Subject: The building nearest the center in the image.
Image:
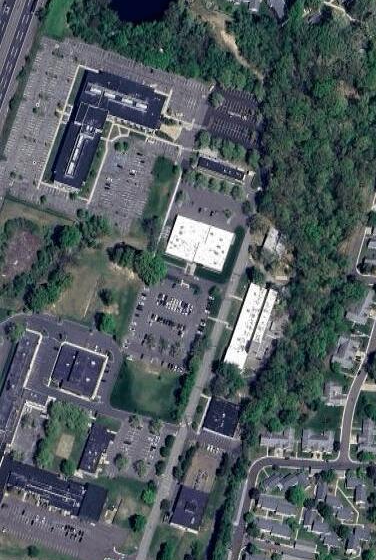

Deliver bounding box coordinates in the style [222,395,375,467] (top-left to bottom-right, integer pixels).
[166,215,235,274]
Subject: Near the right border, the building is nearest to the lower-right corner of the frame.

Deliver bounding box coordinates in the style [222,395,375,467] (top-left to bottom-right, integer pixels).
[345,523,371,555]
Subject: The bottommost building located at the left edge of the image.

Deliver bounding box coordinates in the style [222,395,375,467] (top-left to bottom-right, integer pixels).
[0,457,85,515]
